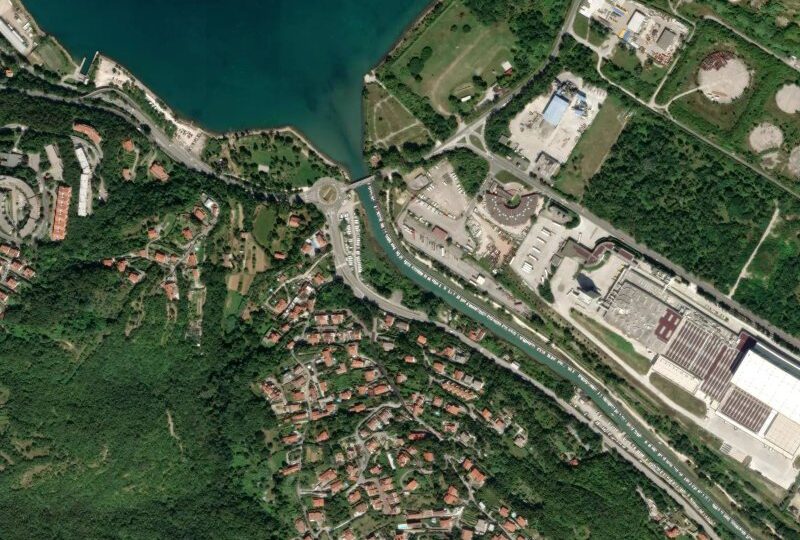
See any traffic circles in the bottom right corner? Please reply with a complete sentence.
No, there's no traffic circle to be seen in the bottom right corner.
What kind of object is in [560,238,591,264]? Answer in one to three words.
building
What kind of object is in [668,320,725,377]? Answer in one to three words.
building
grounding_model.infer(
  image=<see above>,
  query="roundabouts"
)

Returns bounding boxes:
[300,176,348,214]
